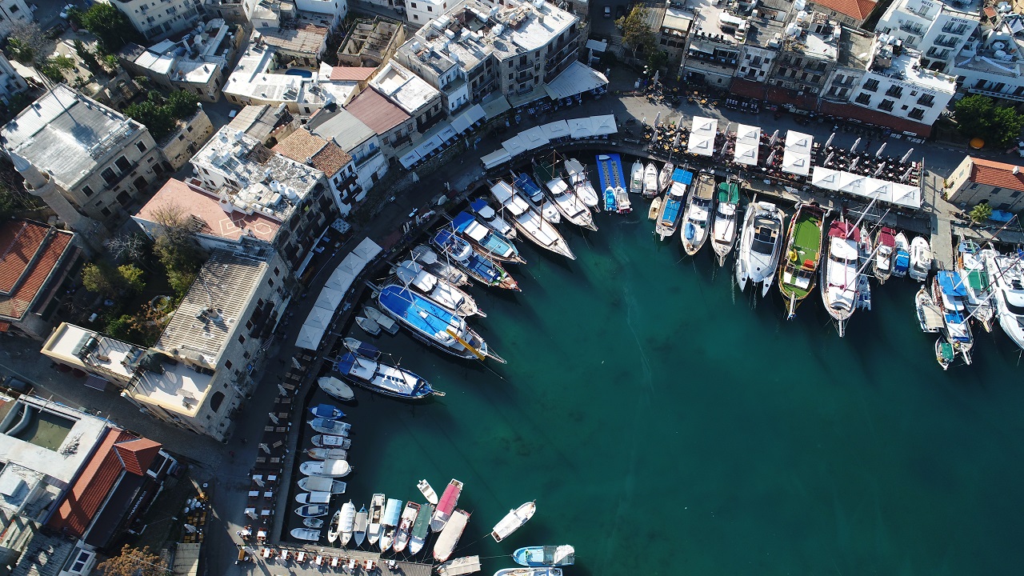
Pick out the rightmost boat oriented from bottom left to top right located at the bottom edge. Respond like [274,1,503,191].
[490,501,537,548]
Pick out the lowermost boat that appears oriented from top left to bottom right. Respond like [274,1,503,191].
[417,478,437,503]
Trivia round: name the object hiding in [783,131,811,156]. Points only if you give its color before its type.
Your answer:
white umbrella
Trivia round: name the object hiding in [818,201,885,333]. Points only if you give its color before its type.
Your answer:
white boat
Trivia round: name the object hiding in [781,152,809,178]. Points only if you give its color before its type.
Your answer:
white umbrella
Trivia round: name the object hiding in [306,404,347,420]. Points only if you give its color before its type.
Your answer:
blue boat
